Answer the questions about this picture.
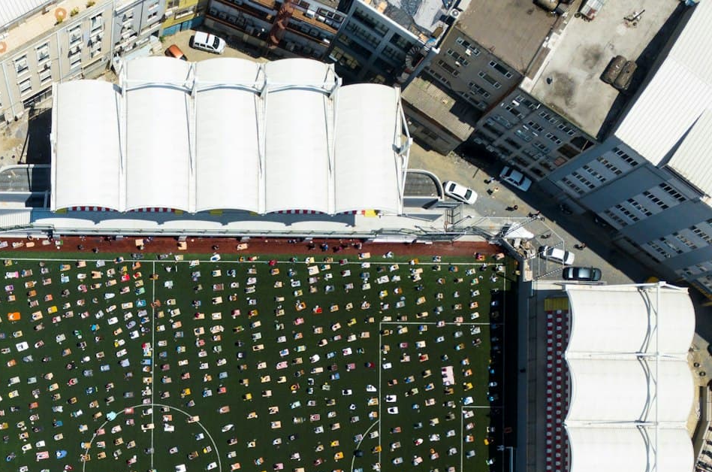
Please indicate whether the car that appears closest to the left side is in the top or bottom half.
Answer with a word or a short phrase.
top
